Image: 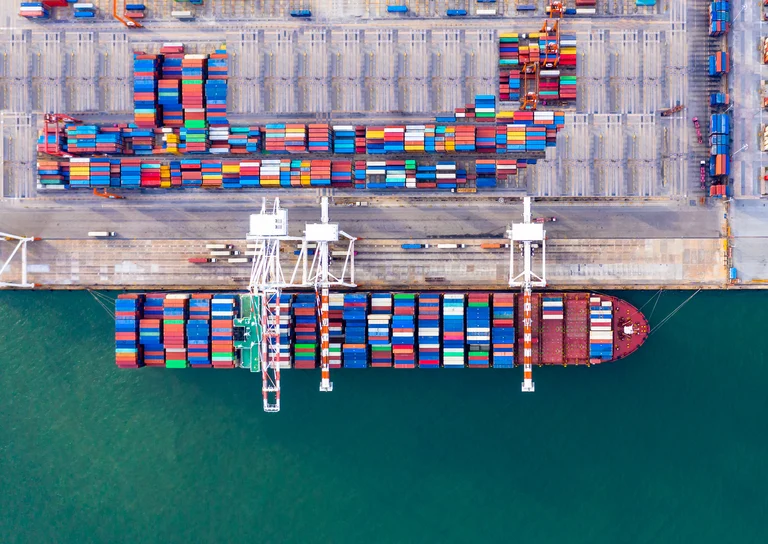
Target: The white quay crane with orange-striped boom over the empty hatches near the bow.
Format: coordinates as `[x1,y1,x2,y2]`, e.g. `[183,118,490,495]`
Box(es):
[498,197,552,392]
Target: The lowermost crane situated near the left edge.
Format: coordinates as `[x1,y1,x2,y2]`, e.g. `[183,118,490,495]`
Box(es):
[0,233,43,287]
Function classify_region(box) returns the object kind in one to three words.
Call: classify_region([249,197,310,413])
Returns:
container crane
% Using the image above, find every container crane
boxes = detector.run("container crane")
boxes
[542,0,566,21]
[44,112,81,158]
[112,0,146,26]
[518,62,542,107]
[249,197,310,413]
[0,233,43,287]
[498,197,552,392]
[538,19,562,68]
[306,197,364,392]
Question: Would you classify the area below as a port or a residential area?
port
